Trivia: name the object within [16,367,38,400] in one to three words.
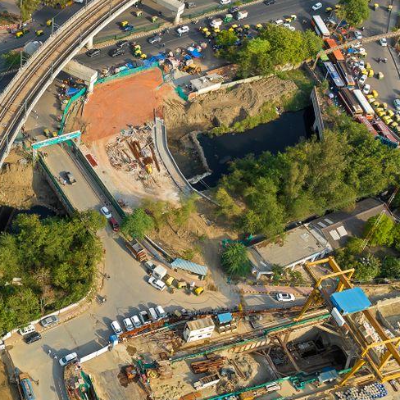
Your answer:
truck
